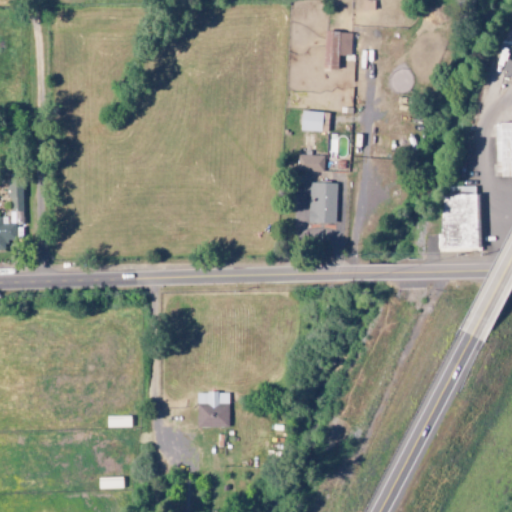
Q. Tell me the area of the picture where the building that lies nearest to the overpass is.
right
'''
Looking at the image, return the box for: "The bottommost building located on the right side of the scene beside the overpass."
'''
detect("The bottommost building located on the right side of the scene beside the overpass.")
[439,194,482,250]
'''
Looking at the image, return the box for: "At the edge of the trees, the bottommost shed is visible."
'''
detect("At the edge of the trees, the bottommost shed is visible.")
[100,476,124,490]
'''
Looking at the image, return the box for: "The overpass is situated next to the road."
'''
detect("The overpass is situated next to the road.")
[461,230,512,345]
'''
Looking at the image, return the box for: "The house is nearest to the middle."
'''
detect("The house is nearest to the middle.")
[310,182,338,228]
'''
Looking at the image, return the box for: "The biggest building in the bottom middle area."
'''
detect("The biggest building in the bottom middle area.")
[198,390,230,428]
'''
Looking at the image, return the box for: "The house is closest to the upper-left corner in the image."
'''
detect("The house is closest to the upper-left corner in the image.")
[10,178,24,212]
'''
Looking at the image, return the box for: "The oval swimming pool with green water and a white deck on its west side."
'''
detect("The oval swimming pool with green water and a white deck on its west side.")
[331,134,350,158]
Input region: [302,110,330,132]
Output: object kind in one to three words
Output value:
barn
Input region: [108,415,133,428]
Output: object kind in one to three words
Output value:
shed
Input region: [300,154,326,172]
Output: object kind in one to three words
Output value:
house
